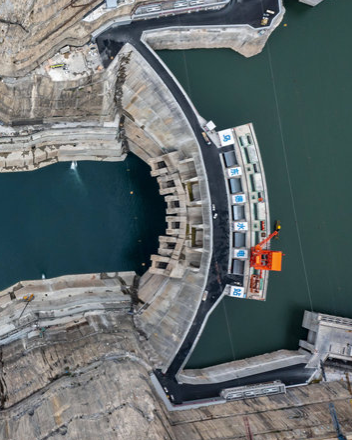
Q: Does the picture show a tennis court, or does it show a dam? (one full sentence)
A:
There is a dam in the scene.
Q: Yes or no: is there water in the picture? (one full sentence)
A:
Yes, some water is visible.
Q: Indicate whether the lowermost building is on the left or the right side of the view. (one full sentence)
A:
The lowermost building sits on the right side.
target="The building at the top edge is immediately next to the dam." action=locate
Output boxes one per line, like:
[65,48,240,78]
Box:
[130,0,232,23]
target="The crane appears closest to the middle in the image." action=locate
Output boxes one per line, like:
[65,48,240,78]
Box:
[251,224,286,276]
